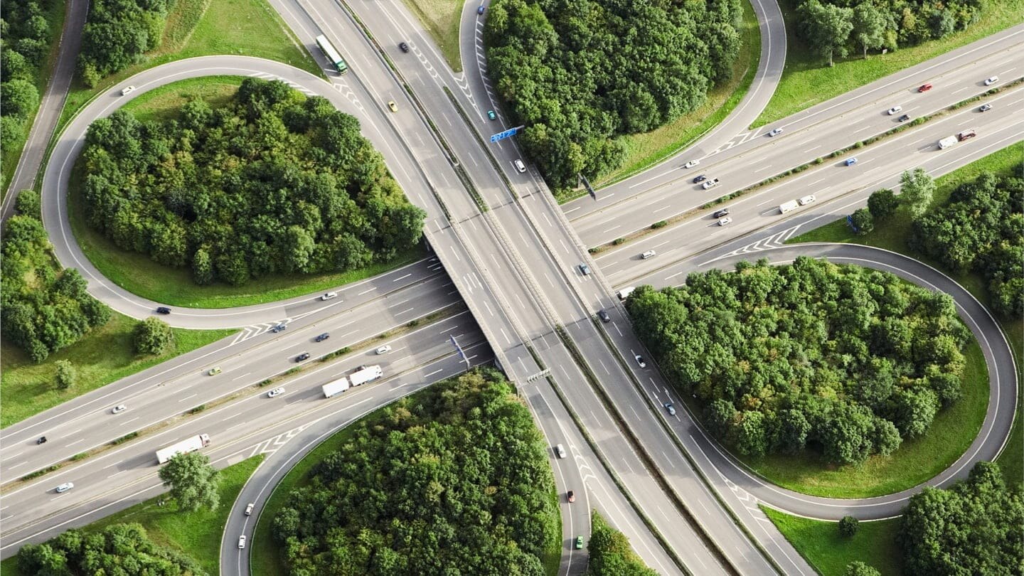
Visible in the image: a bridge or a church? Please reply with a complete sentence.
Visible in the photo is a bridge.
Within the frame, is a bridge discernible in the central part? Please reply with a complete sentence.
Yes, a bridge can be seen in the central part.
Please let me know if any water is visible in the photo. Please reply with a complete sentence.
No, there's no water in this view.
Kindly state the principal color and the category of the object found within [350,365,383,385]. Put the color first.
white vehicle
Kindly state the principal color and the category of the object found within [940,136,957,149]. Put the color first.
white vehicle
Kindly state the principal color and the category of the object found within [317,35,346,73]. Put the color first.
white truck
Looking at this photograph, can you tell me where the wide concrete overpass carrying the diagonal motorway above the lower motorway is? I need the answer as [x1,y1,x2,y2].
[423,165,642,382]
